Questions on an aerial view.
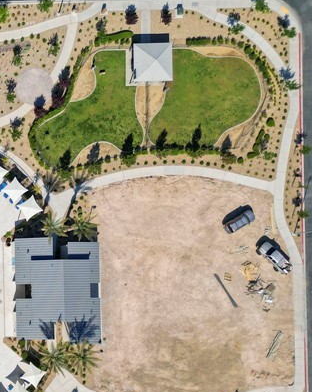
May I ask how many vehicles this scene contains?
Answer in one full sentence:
Altogether the scene contains 2 vehicles.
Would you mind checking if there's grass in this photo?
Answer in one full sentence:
Yes, some grass is visible.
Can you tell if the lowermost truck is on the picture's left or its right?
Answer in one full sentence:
The lowermost truck is on the right side of the image.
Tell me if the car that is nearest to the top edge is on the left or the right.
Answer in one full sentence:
You can find the car that is nearest to the top edge on the right side of the picture.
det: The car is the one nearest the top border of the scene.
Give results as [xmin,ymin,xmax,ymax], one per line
[222,208,256,231]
